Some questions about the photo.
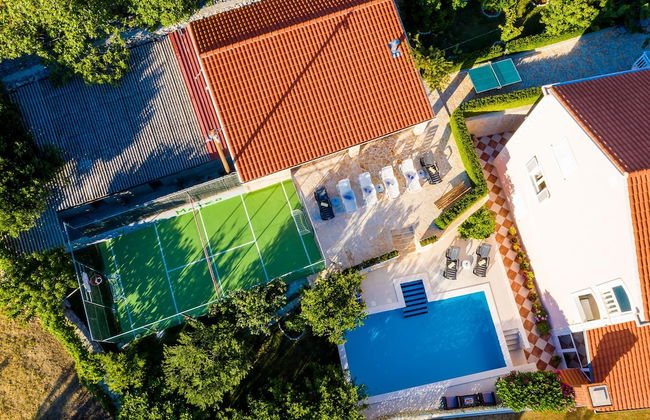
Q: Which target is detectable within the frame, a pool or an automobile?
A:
pool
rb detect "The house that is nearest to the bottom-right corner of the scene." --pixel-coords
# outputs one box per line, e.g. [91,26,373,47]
[491,65,650,414]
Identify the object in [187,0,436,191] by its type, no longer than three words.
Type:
house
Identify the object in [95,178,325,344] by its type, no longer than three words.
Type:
sports court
